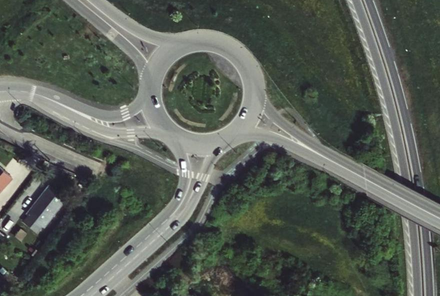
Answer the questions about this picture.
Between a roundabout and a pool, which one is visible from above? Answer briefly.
roundabout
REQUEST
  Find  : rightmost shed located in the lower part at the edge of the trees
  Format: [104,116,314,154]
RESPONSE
[23,190,63,233]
